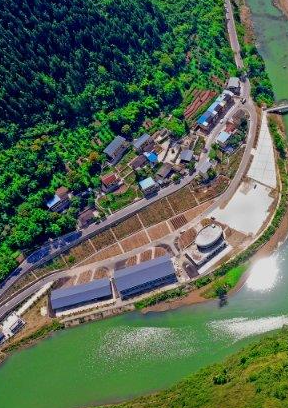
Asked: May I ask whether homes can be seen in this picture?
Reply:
Yes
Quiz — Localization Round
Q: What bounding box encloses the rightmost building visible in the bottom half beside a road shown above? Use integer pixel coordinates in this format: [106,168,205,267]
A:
[184,224,233,275]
